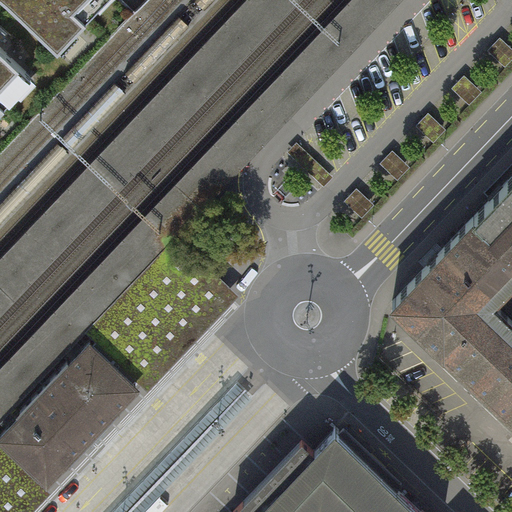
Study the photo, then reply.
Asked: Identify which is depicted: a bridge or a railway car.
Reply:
railway car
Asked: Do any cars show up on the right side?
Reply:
Yes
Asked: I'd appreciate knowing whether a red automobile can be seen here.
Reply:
Yes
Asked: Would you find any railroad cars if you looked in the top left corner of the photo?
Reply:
Yes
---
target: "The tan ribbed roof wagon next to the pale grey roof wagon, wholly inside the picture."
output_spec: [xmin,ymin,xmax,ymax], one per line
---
[125,17,191,86]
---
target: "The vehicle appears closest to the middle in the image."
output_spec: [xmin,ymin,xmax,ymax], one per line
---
[236,266,259,290]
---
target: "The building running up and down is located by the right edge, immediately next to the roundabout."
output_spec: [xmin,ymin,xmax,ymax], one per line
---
[389,164,512,432]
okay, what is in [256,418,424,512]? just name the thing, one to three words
building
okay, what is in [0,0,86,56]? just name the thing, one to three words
house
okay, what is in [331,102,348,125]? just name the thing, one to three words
car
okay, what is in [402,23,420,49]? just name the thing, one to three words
vehicle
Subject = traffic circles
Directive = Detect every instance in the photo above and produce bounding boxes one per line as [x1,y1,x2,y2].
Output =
[244,253,376,398]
